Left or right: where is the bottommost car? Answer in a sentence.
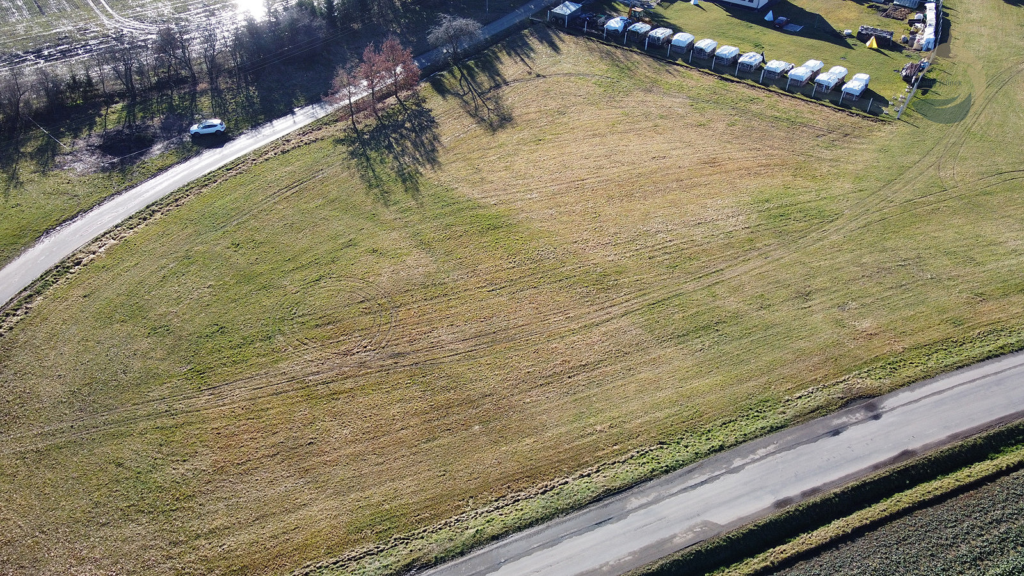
You can find the bottommost car on the left side of the picture.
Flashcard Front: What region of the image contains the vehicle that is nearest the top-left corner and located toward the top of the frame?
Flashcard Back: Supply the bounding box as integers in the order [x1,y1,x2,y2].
[188,115,228,136]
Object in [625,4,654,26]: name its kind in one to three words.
work vehicle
